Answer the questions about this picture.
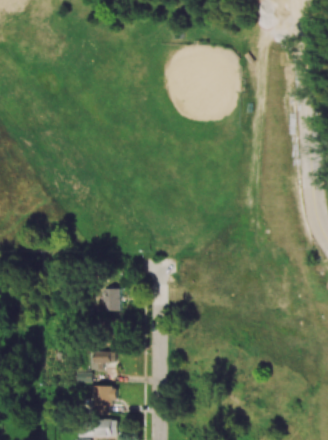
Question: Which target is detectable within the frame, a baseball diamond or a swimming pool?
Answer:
baseball diamond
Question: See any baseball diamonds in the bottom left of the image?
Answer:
No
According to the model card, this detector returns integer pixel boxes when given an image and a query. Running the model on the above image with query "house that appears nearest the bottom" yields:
[78,420,118,438]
